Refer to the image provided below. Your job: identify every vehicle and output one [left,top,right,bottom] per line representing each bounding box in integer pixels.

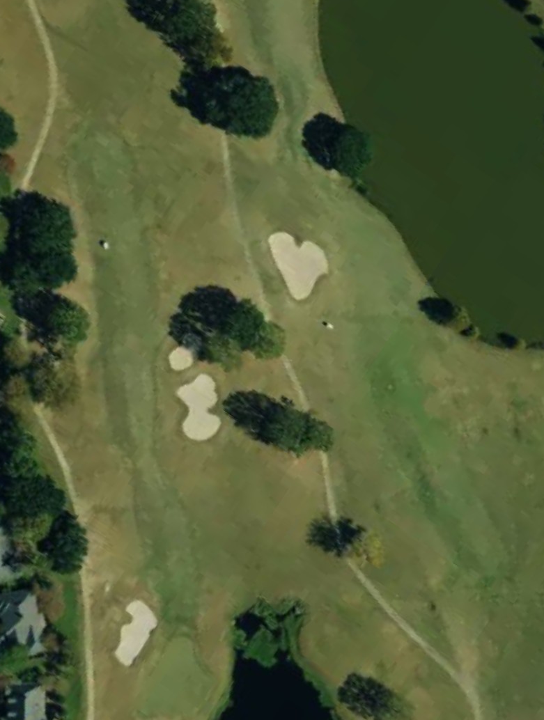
[325,322,334,330]
[102,241,109,250]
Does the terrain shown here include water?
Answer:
Yes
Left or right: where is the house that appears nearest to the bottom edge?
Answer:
left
